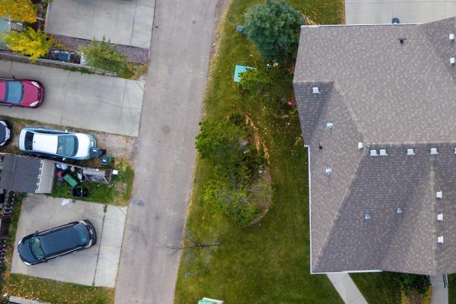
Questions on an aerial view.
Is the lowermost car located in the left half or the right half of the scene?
left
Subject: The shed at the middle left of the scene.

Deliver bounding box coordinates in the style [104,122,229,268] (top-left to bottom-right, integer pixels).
[1,152,73,193]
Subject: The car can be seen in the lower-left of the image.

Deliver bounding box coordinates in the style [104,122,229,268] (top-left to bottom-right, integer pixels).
[9,217,96,268]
